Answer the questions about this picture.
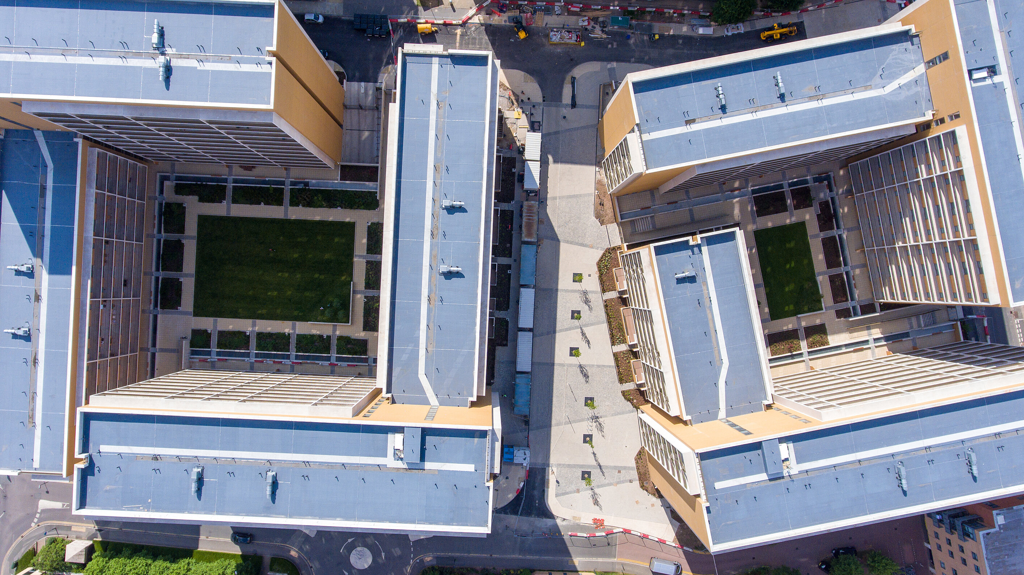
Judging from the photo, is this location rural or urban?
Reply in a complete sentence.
The land in this view is best described as urban.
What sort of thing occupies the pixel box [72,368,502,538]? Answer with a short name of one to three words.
building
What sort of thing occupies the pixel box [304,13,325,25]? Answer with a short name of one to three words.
vehicle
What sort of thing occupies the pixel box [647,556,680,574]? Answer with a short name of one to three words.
vehicle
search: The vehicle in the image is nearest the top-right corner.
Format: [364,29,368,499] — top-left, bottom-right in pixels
[760,21,794,44]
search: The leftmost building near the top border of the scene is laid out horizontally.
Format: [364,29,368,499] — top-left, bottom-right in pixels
[0,0,350,169]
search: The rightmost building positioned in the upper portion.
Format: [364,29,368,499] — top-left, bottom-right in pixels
[845,0,1024,308]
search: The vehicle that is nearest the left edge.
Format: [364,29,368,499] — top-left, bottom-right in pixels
[232,531,254,544]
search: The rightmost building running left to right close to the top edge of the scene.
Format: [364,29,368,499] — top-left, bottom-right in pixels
[595,21,934,200]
